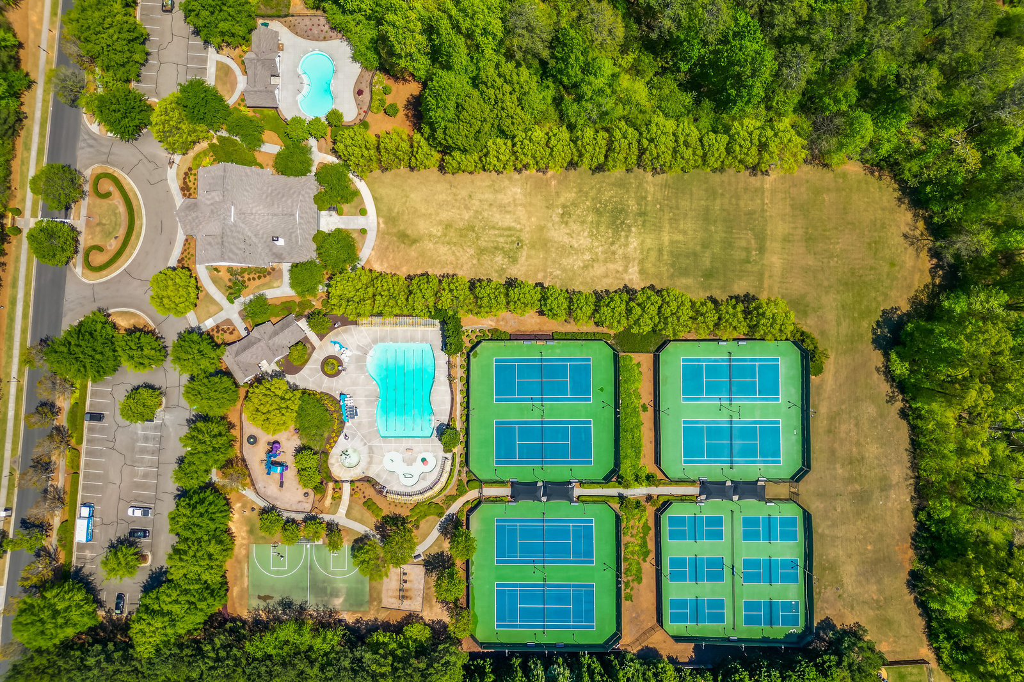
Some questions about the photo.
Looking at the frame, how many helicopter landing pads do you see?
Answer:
0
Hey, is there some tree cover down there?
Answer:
Yes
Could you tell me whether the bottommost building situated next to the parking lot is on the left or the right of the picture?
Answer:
left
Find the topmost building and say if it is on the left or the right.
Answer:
left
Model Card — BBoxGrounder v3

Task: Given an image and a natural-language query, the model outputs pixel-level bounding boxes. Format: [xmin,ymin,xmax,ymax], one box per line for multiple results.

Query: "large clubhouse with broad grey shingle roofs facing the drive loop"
[175,162,321,268]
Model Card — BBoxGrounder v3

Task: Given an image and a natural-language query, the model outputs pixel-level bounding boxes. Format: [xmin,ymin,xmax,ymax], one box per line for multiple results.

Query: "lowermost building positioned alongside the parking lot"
[222,313,308,385]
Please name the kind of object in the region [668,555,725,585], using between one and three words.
sports court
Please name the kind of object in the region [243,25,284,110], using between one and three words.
building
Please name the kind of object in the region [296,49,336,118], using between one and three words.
swimming pool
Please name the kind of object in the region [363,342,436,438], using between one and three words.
swimming pool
